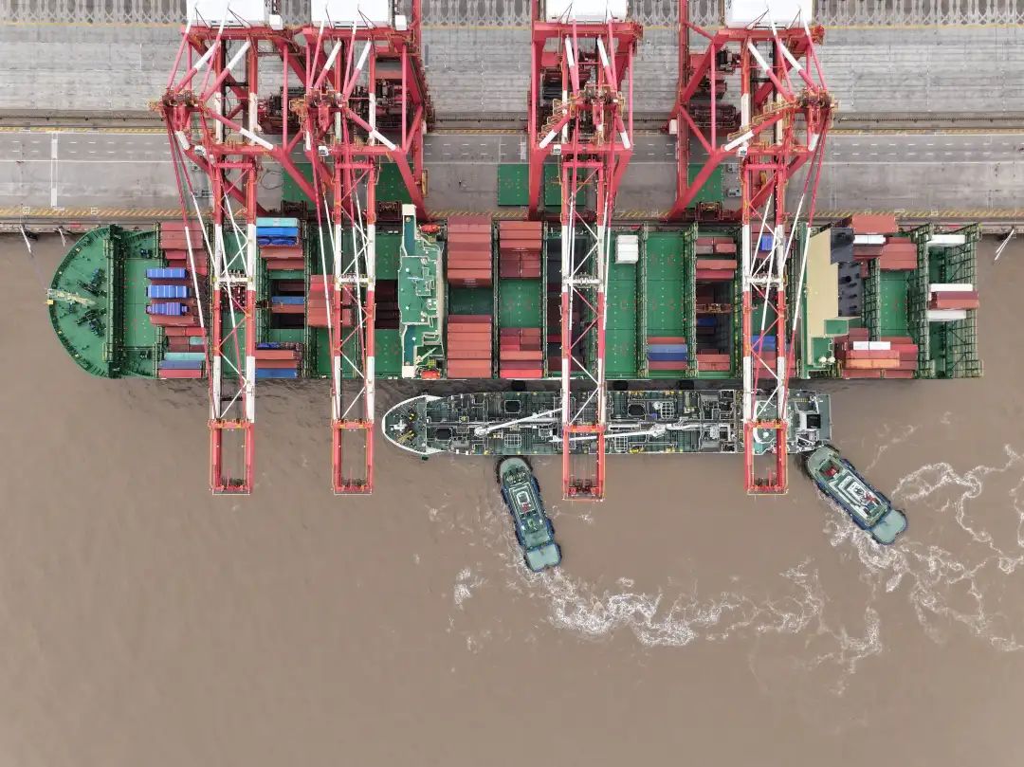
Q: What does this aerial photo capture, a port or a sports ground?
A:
port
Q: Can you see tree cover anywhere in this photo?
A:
No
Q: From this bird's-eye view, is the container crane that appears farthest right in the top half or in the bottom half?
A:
top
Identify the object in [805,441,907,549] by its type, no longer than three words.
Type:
boat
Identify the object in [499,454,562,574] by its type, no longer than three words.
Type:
boat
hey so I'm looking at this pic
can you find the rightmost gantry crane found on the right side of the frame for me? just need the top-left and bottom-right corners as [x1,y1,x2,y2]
[649,0,846,500]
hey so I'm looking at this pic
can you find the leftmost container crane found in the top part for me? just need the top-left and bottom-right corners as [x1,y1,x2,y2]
[139,0,351,500]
